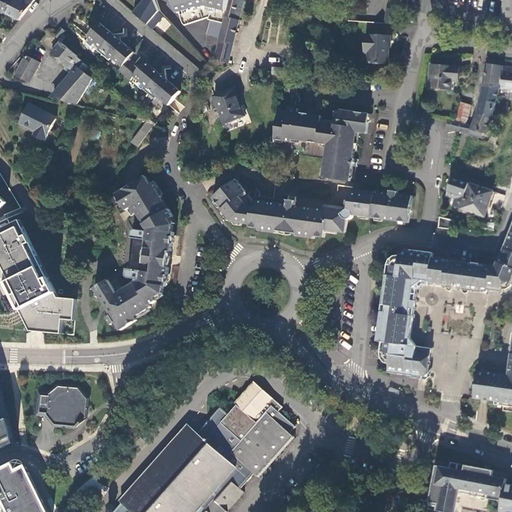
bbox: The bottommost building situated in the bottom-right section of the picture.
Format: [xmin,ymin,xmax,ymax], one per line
[428,460,512,512]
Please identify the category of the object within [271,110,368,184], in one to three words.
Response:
house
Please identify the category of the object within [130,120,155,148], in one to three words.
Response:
shed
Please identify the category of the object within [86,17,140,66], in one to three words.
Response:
house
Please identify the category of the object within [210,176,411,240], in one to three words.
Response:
building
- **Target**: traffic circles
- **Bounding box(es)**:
[226,248,302,334]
